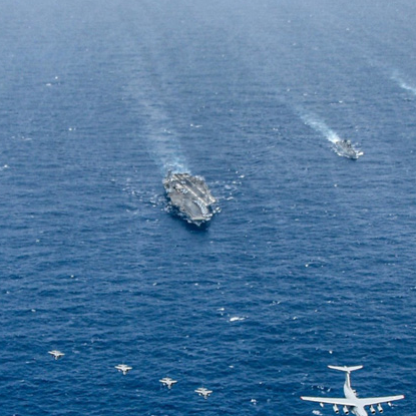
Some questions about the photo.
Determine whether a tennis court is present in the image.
No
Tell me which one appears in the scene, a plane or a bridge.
plane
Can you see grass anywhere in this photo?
No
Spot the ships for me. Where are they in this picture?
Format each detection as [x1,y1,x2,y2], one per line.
[335,140,357,160]
[166,171,216,225]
